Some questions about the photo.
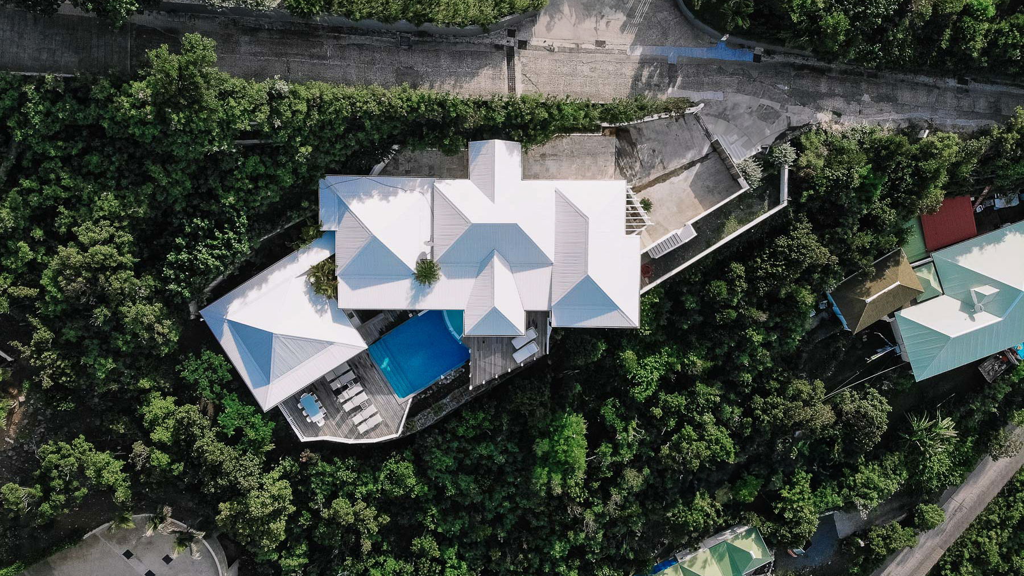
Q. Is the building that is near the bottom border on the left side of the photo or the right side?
right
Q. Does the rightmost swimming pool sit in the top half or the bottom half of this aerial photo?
bottom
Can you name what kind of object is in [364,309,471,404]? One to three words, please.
swimming pool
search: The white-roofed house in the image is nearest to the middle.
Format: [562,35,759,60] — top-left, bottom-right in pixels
[317,140,642,338]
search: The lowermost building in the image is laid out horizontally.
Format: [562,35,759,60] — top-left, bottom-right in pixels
[653,523,773,576]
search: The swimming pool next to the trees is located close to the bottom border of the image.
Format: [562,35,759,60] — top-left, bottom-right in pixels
[645,552,677,576]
